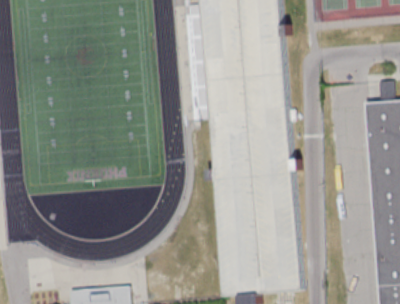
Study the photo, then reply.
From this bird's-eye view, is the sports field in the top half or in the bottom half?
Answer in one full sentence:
You can find the sports field in the top half.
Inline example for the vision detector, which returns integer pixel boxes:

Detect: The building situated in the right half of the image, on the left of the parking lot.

[198,0,306,304]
